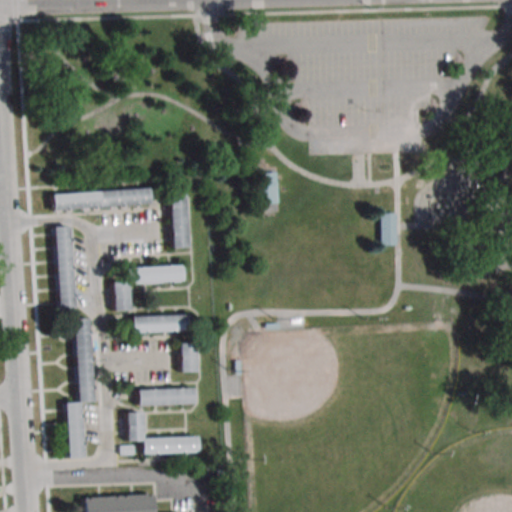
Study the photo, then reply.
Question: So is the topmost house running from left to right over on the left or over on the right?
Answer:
left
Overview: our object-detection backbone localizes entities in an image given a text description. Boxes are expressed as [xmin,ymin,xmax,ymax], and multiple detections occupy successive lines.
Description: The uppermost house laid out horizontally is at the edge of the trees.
[50,186,154,212]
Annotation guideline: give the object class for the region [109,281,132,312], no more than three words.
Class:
house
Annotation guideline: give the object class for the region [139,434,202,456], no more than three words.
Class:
house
